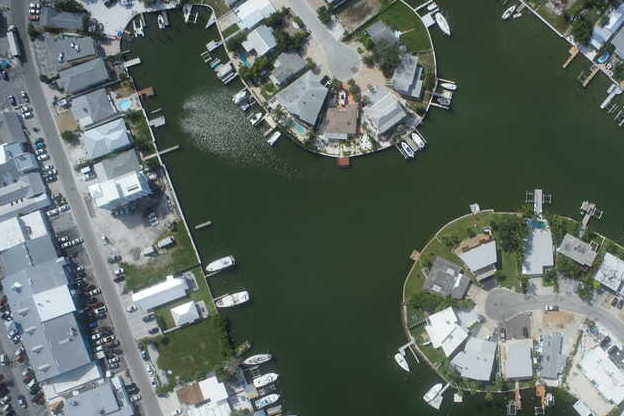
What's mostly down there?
water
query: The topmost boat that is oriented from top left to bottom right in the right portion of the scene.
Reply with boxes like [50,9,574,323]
[434,12,450,35]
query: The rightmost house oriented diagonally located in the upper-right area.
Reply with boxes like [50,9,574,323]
[593,5,624,46]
